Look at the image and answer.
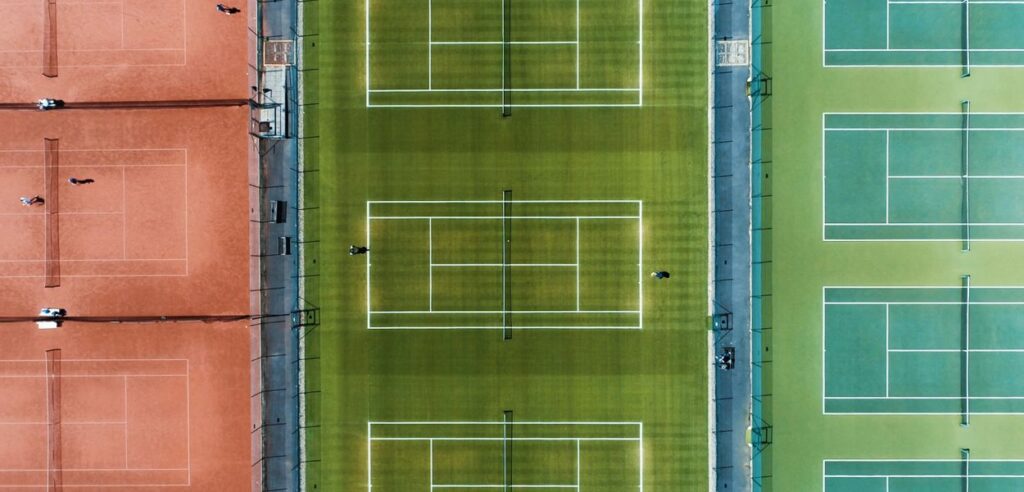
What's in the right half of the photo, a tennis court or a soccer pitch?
tennis court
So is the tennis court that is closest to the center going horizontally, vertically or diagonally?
horizontally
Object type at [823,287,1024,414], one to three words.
tennis court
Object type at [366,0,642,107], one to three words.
tennis court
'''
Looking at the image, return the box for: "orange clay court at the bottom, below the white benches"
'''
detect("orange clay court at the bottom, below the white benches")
[0,359,190,487]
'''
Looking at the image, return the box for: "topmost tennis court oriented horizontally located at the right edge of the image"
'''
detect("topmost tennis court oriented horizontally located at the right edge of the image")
[823,0,1024,66]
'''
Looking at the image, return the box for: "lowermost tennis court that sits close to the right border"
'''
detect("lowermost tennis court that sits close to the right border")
[823,460,1024,492]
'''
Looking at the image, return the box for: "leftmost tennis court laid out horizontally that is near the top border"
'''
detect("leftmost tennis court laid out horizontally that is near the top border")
[0,0,187,66]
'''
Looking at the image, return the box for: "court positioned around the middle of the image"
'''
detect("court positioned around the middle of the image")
[367,201,643,329]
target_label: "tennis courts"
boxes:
[0,0,187,66]
[0,148,189,277]
[0,359,190,487]
[823,113,1024,241]
[366,0,642,107]
[367,201,643,329]
[823,0,1024,66]
[368,422,643,492]
[823,287,1024,414]
[823,460,1024,492]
